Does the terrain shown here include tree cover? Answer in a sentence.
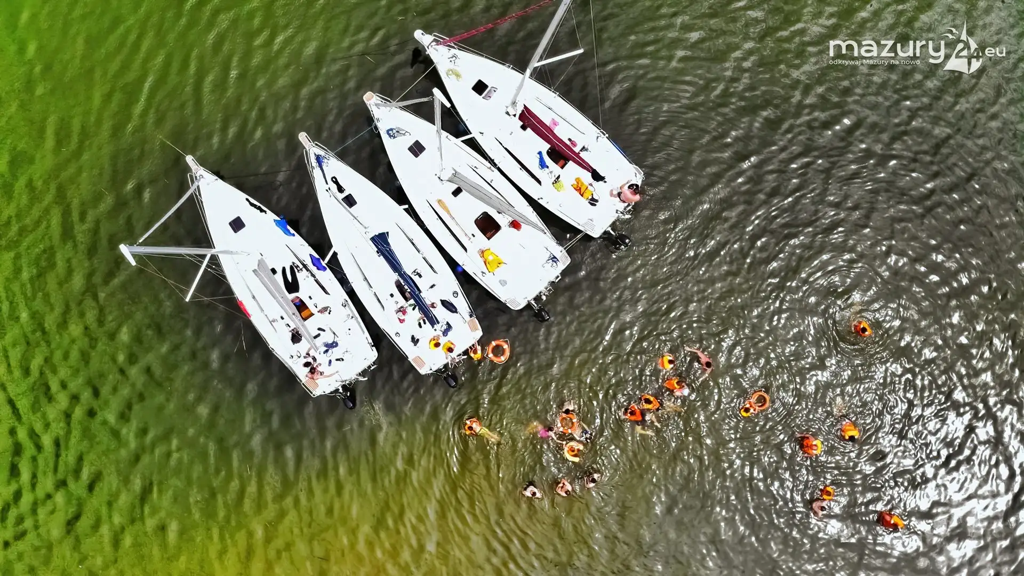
No, the picture contains no tree cover.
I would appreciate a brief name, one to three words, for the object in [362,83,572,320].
boat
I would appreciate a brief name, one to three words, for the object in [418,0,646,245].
boat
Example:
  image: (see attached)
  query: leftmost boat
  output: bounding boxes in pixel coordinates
[119,151,377,407]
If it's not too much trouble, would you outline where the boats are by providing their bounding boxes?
[300,130,484,388]
[119,151,377,407]
[362,83,572,320]
[418,0,646,245]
